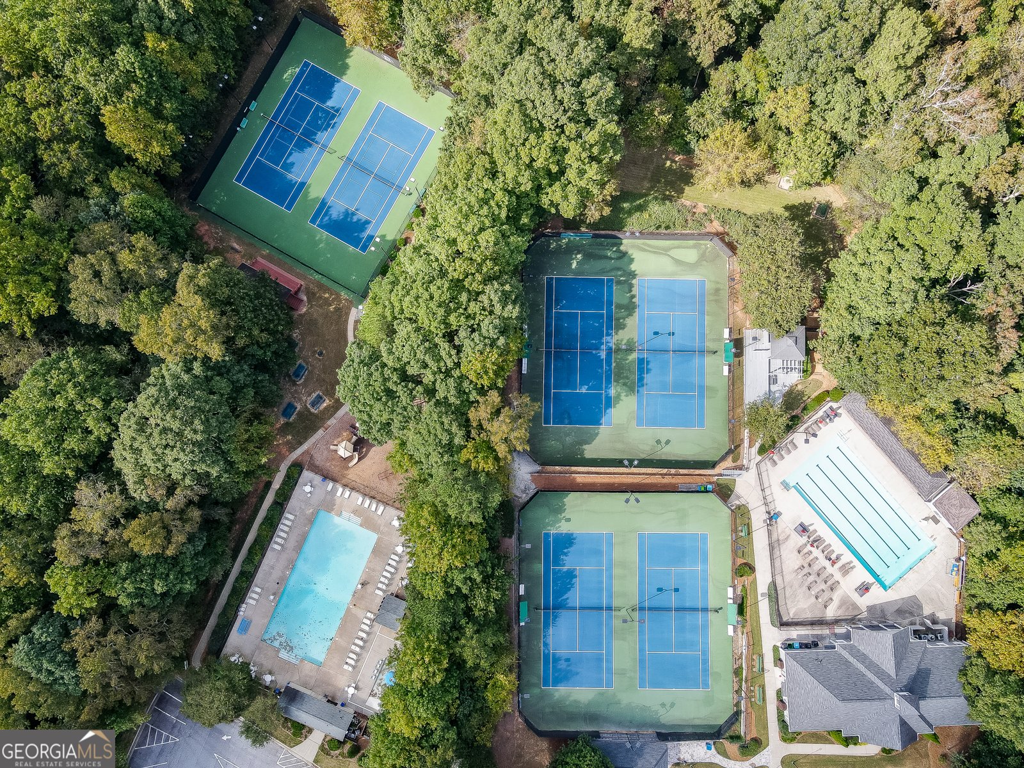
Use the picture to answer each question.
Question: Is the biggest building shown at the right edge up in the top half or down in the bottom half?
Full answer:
The biggest building shown at the right edge is in the bottom half of the image.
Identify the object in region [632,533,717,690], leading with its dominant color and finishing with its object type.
blue tennis court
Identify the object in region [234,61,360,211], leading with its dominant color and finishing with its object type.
blue tennis court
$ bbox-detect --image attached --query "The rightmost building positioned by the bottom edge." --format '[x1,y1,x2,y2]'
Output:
[780,623,978,750]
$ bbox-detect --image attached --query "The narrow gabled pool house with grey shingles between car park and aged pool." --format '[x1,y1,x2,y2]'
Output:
[276,678,356,742]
